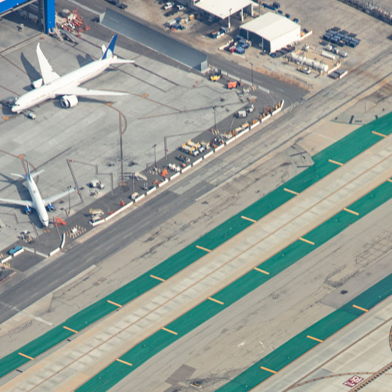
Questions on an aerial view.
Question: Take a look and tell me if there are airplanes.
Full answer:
Yes, an airplane is visible in the scene.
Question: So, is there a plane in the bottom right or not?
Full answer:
No, no plane can be made out in the bottom right.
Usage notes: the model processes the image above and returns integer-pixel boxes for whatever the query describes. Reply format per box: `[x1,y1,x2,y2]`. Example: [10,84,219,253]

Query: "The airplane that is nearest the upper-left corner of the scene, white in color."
[13,33,134,115]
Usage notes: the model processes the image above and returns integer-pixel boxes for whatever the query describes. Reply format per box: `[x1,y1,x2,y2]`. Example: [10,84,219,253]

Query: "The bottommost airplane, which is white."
[0,158,76,227]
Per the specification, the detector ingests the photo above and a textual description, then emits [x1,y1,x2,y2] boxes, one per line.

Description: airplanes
[0,158,76,227]
[13,33,134,115]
